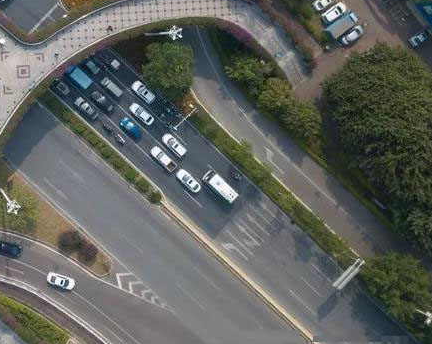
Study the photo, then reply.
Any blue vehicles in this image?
Yes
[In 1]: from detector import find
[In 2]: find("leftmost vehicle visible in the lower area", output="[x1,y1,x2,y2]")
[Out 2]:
[0,240,23,256]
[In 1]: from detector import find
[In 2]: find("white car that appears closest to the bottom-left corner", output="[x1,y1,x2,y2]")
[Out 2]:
[46,272,74,289]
